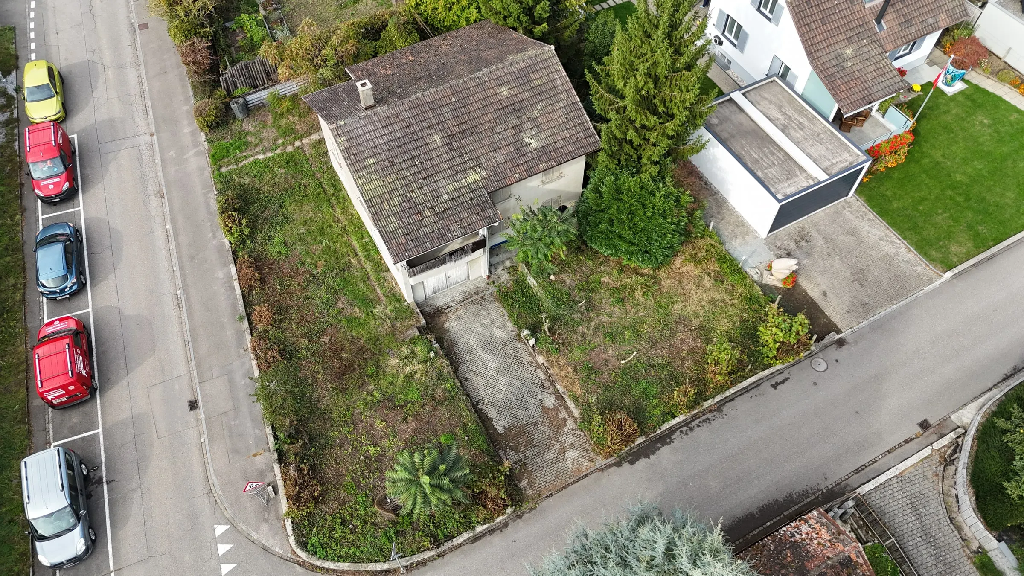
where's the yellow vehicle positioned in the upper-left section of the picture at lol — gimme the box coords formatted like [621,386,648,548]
[13,60,66,125]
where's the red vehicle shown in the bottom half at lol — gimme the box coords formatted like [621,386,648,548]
[22,317,95,421]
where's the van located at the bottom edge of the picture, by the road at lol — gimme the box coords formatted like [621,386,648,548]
[20,451,95,571]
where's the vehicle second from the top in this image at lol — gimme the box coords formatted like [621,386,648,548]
[18,118,78,207]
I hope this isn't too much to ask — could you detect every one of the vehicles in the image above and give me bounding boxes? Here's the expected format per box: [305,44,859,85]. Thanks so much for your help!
[22,317,95,421]
[18,118,78,207]
[24,222,86,308]
[20,451,95,571]
[13,60,66,125]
